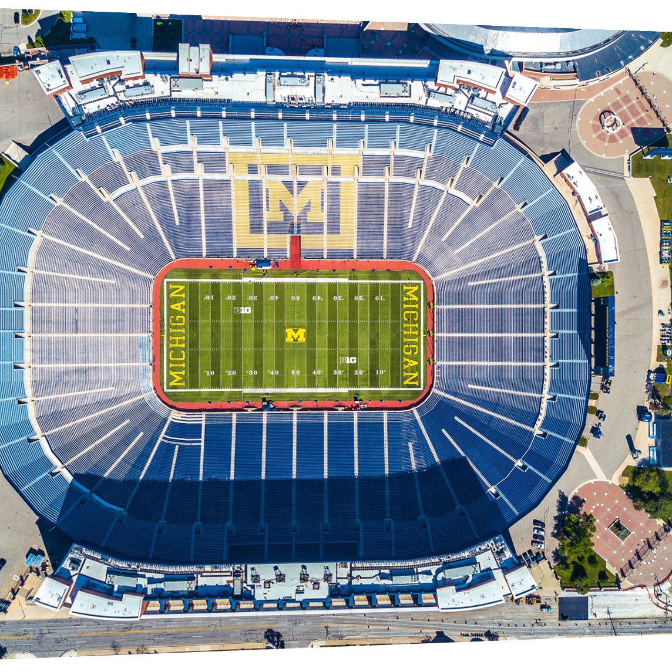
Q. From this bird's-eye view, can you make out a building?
Yes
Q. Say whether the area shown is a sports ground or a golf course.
sports ground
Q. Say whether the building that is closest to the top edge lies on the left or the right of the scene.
right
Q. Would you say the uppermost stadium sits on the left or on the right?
right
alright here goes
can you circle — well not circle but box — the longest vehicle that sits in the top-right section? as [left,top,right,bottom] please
[513,105,530,130]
